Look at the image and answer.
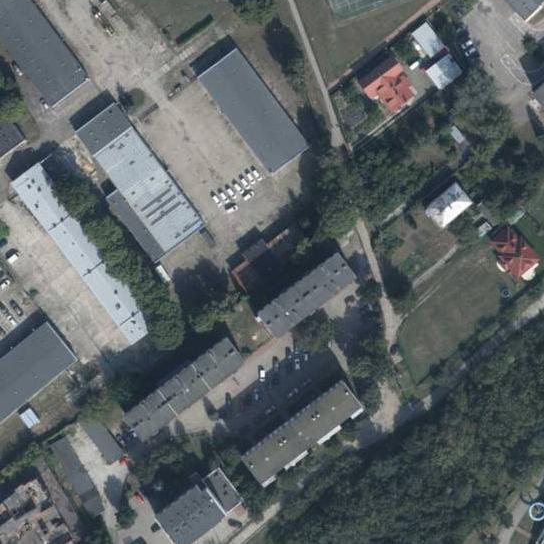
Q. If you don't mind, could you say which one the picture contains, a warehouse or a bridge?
warehouse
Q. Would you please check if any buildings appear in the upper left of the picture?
Yes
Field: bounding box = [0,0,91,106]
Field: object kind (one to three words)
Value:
building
